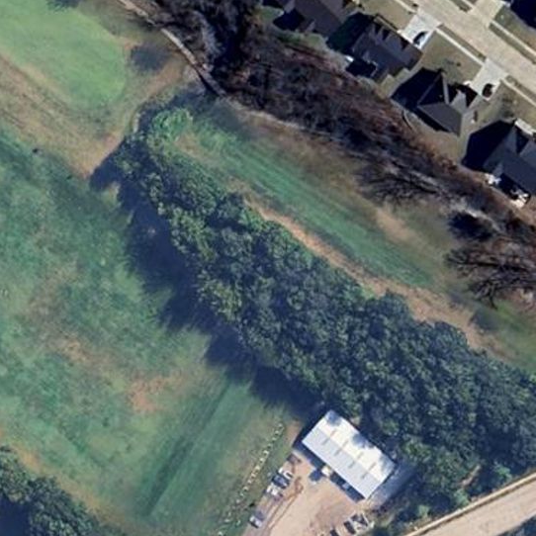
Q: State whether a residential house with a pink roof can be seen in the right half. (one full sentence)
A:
No, there's no residential house with a pink roof to be seen in the right half.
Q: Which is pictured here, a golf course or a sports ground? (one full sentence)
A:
This image shows a golf course.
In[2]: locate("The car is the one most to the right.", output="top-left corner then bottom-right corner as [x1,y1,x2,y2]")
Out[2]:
[483,82,497,98]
